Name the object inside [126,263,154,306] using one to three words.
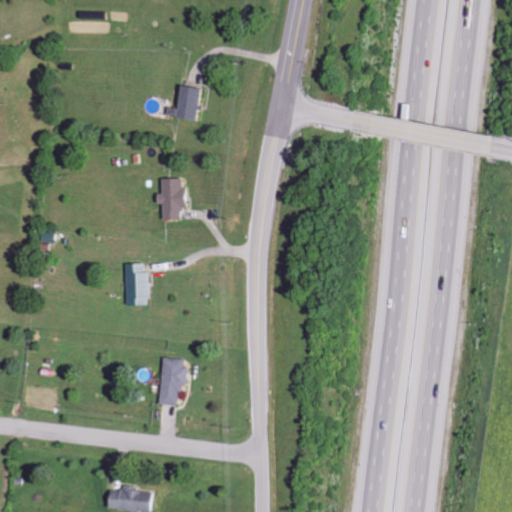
house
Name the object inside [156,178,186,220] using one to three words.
house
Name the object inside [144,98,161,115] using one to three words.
swimming pool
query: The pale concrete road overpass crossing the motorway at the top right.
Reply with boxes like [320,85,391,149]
[358,111,494,158]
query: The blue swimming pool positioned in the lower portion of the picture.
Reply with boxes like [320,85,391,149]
[136,366,152,384]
